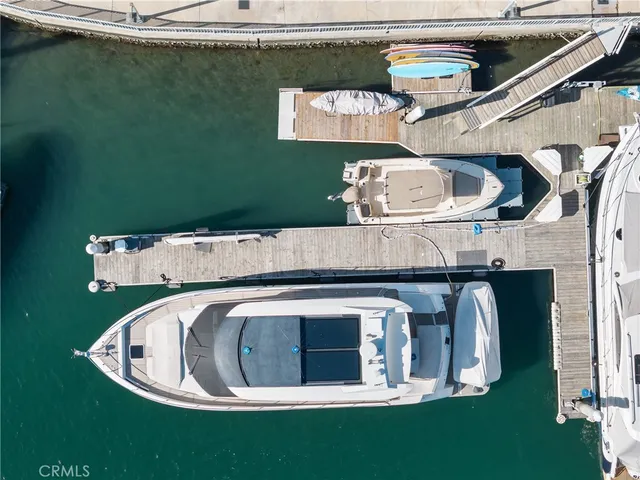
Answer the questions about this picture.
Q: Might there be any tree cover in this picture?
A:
No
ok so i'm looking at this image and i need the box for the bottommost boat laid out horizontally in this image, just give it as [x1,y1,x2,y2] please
[71,282,491,411]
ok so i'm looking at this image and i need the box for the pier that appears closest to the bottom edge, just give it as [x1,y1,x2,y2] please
[93,84,640,421]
